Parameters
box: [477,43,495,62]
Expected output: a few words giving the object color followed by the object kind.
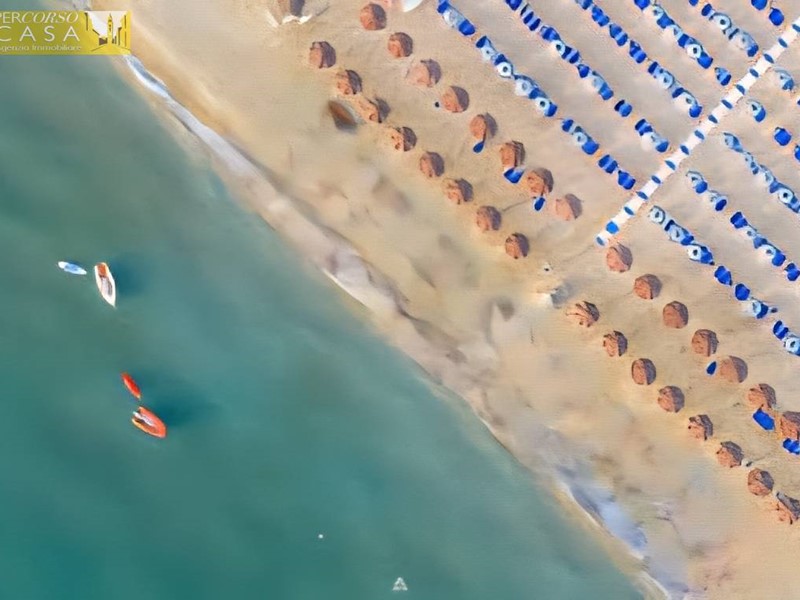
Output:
white umbrella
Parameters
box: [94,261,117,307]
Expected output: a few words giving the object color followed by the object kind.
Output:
white boat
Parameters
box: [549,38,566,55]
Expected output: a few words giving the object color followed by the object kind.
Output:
white umbrella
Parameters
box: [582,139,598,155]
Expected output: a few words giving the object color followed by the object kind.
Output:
blue umbrella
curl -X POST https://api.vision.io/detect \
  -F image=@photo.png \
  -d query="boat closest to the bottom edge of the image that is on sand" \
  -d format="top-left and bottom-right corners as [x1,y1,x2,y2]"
[132,408,169,439]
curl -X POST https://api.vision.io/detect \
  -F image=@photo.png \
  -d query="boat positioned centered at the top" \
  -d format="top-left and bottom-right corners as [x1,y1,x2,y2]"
[330,101,356,129]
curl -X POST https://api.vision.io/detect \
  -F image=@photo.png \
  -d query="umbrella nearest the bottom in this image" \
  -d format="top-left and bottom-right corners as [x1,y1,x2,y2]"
[774,498,798,522]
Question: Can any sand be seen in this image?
Yes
